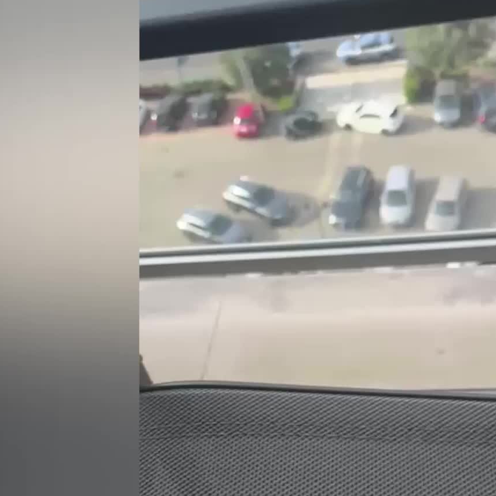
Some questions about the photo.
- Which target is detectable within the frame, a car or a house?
car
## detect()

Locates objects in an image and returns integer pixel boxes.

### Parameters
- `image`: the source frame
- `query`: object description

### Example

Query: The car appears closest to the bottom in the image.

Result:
[171,205,253,245]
